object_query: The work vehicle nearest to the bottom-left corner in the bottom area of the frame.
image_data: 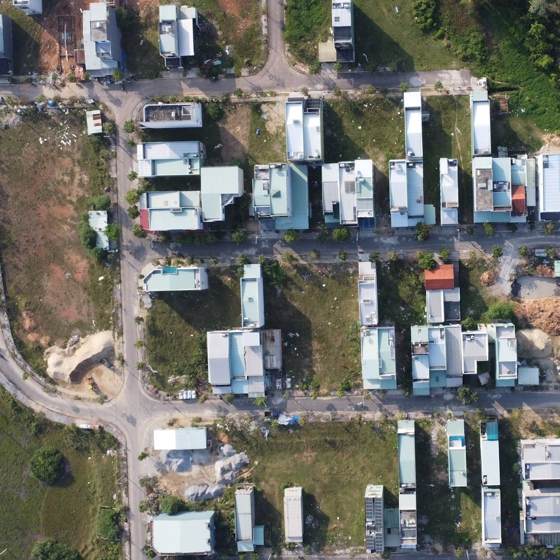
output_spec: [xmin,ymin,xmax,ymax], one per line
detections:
[83,373,97,393]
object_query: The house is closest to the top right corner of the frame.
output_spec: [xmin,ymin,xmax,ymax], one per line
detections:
[469,91,506,158]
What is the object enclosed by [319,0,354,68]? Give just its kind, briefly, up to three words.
house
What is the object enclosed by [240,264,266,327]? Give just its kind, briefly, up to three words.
house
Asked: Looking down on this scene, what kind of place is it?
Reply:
residential area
